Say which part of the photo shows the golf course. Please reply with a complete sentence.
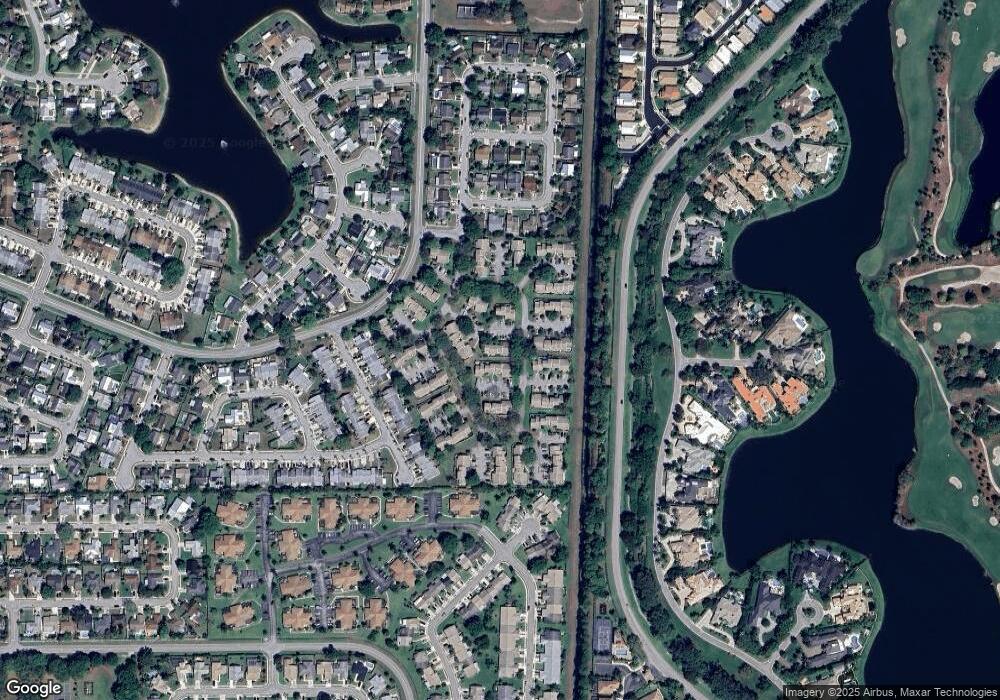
The golf course is located in the right region of the scene.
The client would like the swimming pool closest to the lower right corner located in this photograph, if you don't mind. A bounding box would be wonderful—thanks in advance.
[848,633,862,650]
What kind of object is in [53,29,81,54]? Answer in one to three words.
house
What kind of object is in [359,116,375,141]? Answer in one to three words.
house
